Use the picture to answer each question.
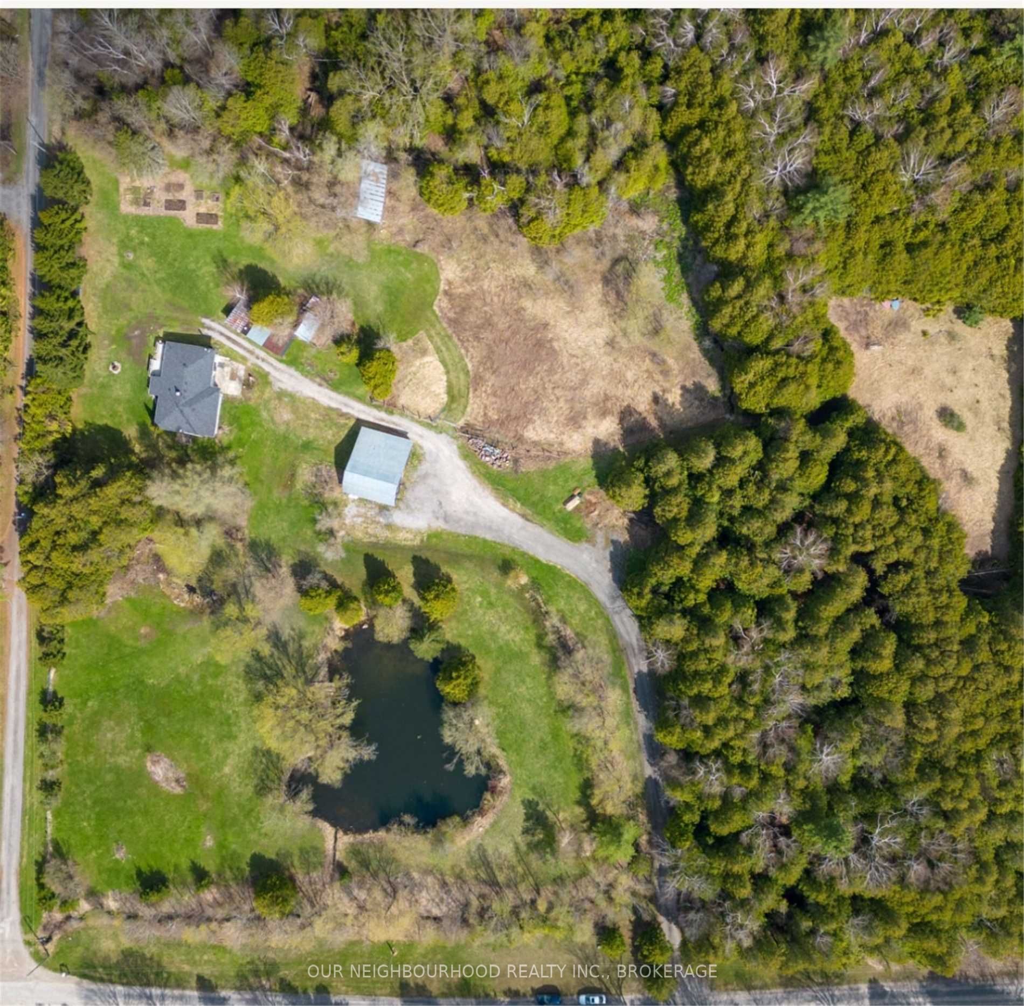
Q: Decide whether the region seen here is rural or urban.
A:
rural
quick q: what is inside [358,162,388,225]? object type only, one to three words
greenhouse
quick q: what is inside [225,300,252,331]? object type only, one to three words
shed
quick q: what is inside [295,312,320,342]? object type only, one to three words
shed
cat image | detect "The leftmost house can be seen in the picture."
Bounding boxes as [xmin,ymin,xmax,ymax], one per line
[149,341,223,438]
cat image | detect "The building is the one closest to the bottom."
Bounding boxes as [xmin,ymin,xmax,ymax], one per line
[342,426,413,506]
